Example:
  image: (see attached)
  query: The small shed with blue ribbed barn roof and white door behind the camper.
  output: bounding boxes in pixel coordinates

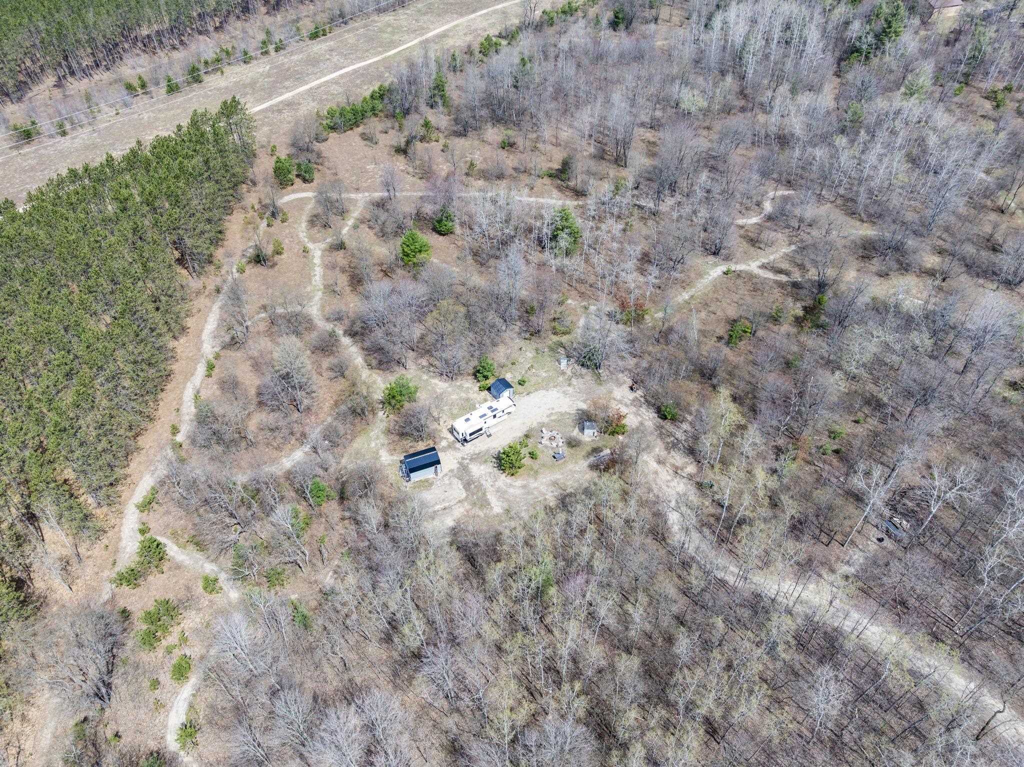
[490,377,514,400]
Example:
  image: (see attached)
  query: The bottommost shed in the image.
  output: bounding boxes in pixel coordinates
[403,447,441,481]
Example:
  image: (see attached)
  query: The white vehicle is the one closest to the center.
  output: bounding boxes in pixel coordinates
[452,395,521,446]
